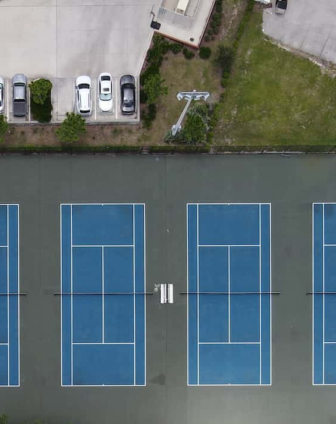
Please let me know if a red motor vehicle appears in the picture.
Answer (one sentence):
No, the photo shows no red motor vehicle.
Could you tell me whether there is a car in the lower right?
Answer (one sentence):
No, the scene shows no car in the lower right.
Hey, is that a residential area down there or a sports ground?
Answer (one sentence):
What you see here is a sports ground.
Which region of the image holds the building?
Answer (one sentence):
The building sits in the top section of the image.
